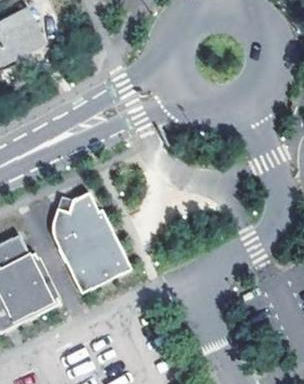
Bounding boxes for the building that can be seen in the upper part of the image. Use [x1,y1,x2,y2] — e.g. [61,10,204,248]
[0,5,47,67]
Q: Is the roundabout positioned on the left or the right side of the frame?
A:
right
